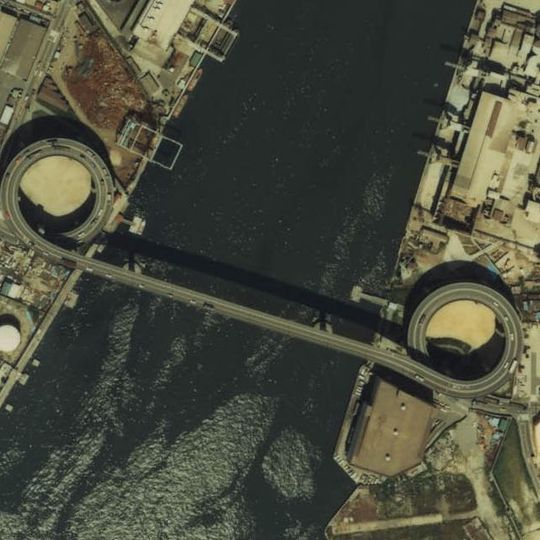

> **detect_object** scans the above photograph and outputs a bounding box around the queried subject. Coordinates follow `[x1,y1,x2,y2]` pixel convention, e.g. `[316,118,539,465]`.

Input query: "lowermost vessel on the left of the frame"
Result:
[176,94,191,118]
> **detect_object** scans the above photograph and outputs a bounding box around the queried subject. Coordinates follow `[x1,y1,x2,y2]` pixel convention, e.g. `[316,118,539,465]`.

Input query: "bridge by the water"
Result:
[0,133,540,417]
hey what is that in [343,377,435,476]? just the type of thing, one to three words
building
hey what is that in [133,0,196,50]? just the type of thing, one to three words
shed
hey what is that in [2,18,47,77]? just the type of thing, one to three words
shed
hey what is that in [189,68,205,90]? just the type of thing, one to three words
vessel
